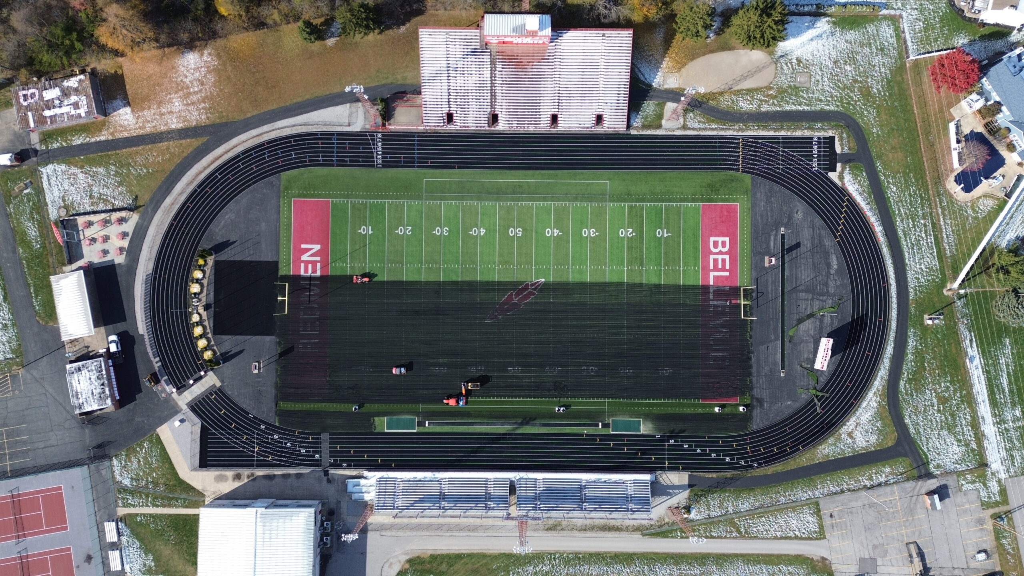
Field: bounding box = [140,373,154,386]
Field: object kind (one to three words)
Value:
vehicle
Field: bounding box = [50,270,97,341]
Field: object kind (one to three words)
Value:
building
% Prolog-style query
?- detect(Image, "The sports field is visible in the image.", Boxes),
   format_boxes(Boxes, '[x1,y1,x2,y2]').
[276,169,752,434]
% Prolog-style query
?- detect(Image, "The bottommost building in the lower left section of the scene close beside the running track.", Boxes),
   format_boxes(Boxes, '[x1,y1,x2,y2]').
[197,495,323,576]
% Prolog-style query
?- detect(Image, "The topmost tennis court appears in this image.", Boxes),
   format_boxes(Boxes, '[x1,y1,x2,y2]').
[0,486,69,544]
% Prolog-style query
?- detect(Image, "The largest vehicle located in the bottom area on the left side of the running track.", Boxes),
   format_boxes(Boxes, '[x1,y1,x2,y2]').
[109,337,123,362]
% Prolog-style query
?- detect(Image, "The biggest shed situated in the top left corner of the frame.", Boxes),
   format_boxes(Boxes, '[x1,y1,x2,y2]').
[10,73,105,133]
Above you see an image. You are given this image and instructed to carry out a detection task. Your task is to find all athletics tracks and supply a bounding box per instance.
[151,132,889,472]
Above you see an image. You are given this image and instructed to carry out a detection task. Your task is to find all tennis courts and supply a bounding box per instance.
[0,546,76,576]
[0,486,69,544]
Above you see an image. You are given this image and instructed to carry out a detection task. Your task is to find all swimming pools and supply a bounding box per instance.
[954,130,1006,193]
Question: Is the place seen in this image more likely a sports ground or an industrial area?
sports ground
